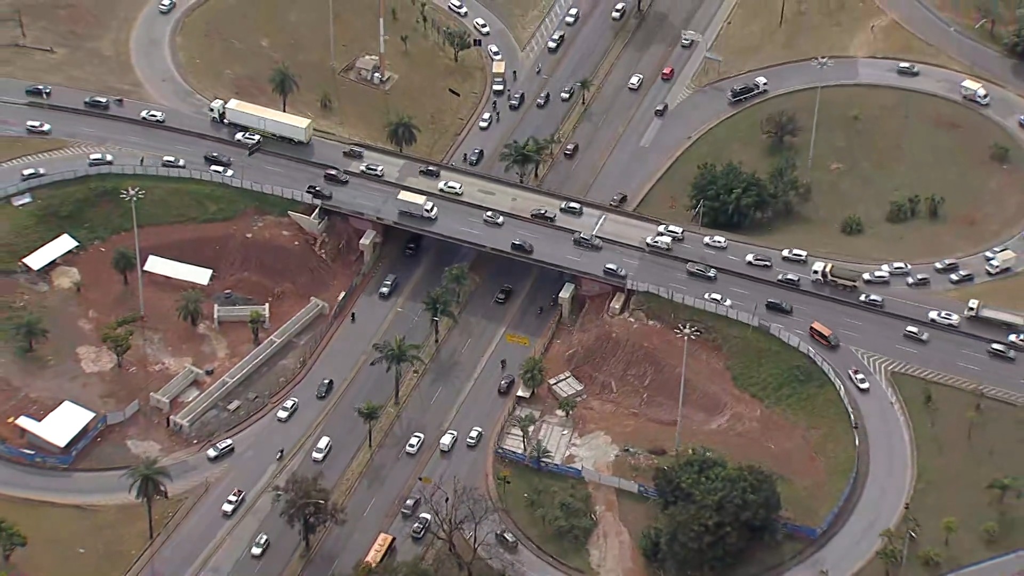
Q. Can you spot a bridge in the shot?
Yes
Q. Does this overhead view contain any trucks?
Yes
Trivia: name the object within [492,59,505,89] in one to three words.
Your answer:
vehicle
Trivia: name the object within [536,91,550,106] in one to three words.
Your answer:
car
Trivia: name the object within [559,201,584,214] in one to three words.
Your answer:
vehicle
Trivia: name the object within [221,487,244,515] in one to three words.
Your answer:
truck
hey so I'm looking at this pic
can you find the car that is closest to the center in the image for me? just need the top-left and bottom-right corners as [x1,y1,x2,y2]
[495,285,512,303]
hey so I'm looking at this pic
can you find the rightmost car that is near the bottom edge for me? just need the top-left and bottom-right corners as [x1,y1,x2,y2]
[494,529,519,548]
